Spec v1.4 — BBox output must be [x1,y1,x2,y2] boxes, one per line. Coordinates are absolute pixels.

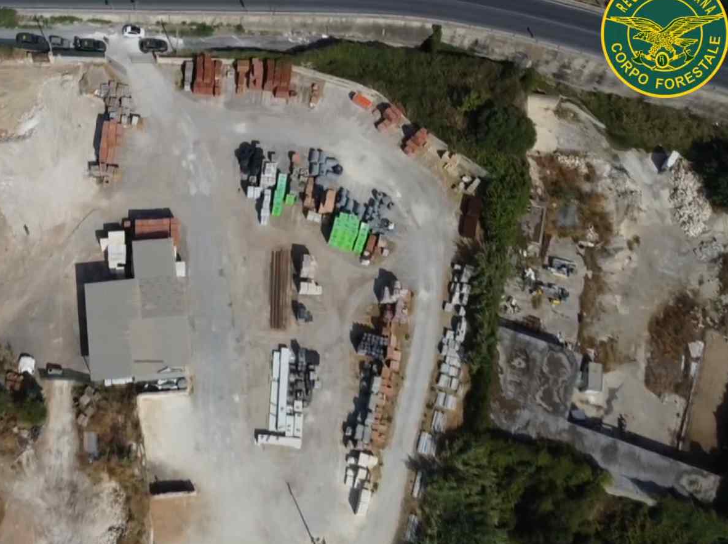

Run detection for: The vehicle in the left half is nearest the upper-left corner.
[16,31,48,48]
